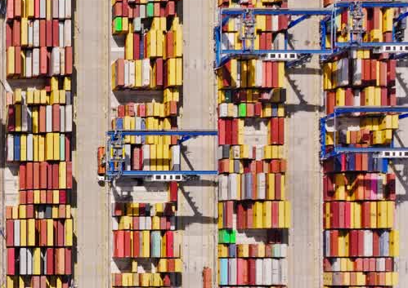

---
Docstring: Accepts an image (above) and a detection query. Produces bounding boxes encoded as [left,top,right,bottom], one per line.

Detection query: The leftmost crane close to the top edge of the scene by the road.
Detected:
[215,7,333,75]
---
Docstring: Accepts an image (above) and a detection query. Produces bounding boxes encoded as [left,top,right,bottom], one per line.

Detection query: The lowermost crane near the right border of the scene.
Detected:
[320,105,408,164]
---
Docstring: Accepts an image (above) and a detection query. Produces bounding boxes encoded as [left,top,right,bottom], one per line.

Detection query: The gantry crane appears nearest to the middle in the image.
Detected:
[105,129,217,186]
